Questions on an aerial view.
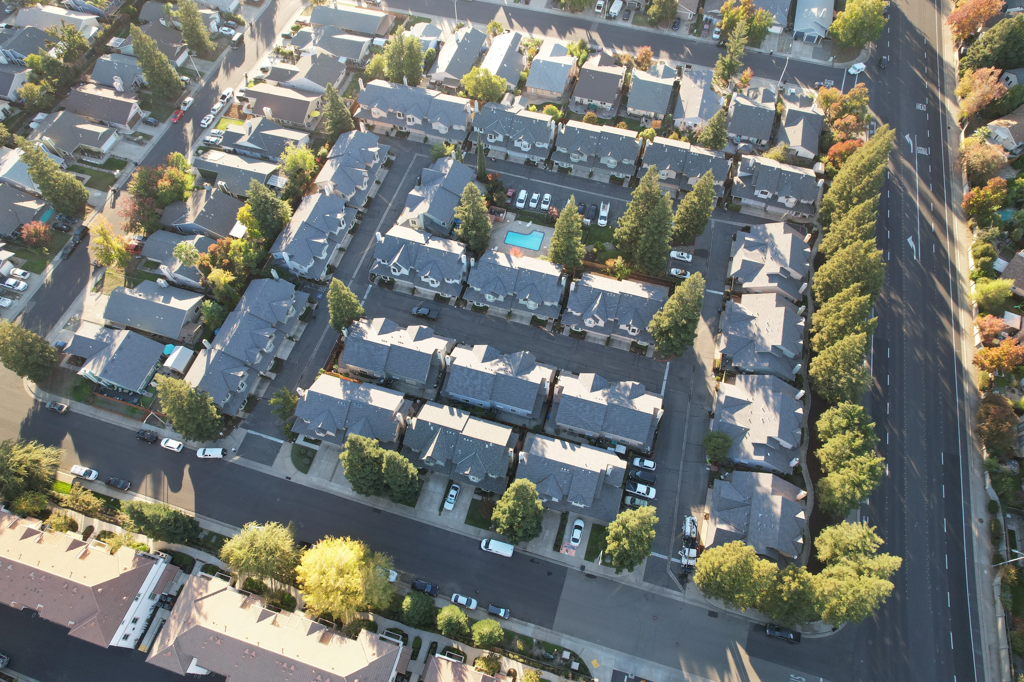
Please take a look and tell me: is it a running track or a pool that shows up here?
pool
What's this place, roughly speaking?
residential area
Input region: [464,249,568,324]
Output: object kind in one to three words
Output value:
house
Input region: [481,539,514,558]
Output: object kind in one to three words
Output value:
vehicle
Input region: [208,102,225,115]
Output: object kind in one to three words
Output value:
vehicle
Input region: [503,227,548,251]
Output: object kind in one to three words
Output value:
swimming pool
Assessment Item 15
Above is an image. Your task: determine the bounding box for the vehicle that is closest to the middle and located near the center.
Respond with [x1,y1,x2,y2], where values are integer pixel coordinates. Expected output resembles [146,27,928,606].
[411,307,439,321]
